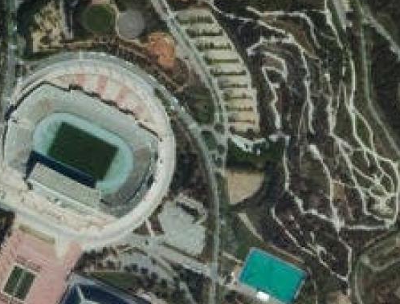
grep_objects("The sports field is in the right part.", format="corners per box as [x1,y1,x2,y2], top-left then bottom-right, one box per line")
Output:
[239,249,306,304]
